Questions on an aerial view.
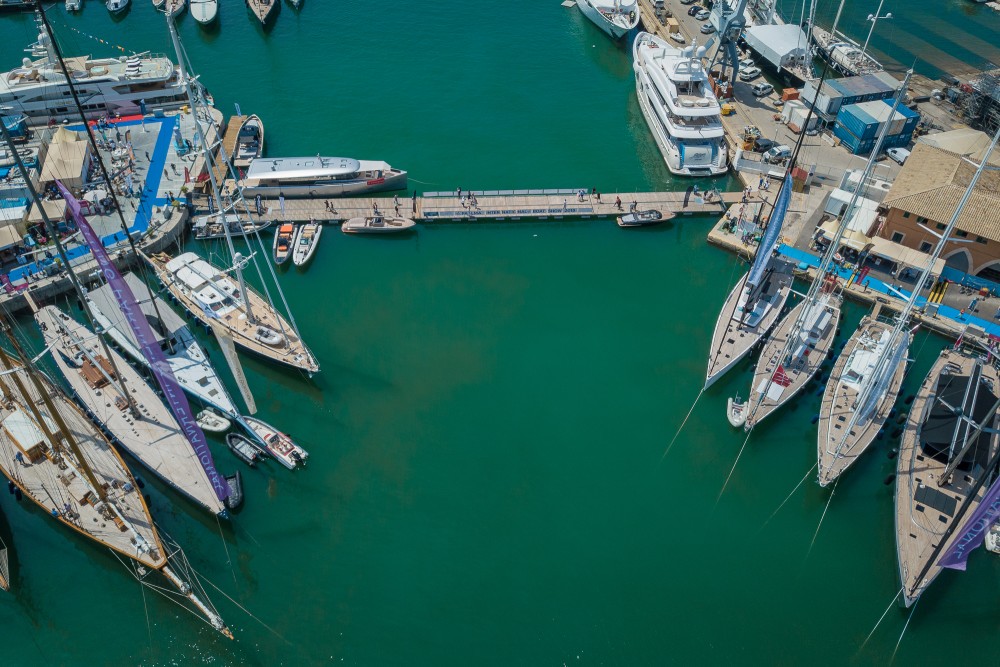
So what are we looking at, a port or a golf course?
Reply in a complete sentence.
What you see here is a port.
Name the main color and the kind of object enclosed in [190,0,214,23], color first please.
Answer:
white boat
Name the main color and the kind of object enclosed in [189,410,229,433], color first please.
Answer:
white boat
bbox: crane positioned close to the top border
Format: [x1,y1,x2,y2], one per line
[701,0,763,91]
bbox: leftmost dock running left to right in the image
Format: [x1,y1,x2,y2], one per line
[185,175,723,227]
